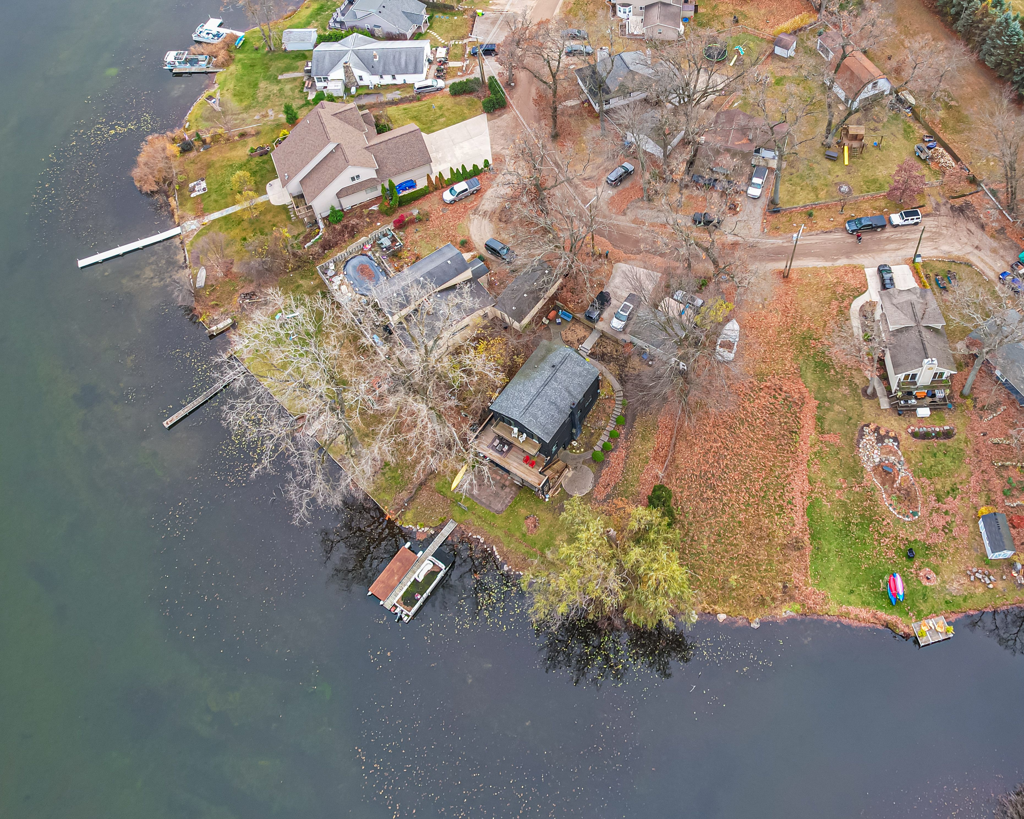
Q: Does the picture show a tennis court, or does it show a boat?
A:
boat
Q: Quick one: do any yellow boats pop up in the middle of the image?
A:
Yes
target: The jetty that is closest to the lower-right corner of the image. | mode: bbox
[911,616,954,648]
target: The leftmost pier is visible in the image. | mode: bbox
[77,226,182,270]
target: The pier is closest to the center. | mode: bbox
[383,519,458,611]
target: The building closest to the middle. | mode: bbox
[470,345,608,499]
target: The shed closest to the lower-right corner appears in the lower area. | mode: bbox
[974,510,1017,562]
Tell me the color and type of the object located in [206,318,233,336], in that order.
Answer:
white boat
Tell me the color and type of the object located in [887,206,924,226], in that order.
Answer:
white car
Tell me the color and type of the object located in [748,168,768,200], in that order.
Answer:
white vehicle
